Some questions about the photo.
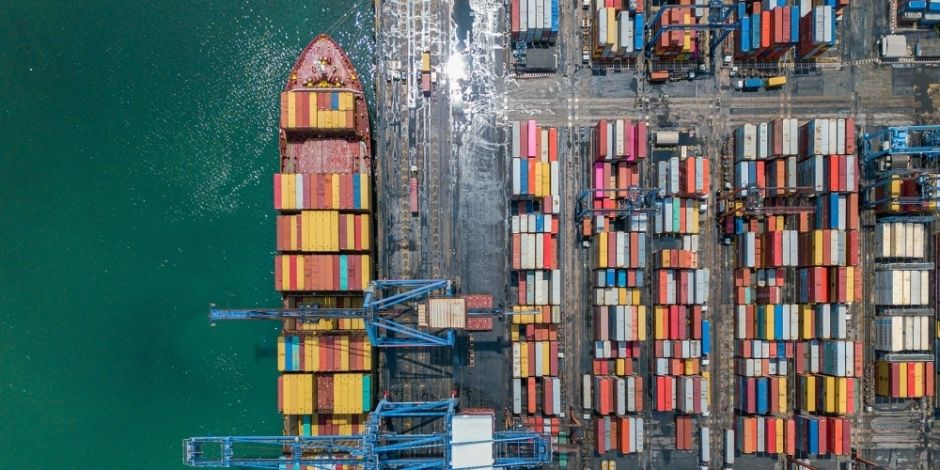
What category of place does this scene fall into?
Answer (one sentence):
It's a port.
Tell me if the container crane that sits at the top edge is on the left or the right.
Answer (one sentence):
You can find the container crane that sits at the top edge on the right side of the picture.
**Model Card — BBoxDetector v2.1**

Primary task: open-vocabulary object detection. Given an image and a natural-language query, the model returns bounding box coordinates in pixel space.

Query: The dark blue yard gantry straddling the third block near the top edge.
[645,2,738,54]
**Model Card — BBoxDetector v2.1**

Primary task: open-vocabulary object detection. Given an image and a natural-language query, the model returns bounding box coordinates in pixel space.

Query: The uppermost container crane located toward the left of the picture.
[205,274,546,352]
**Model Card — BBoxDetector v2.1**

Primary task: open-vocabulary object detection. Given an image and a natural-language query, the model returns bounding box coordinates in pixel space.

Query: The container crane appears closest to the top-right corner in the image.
[862,125,940,167]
